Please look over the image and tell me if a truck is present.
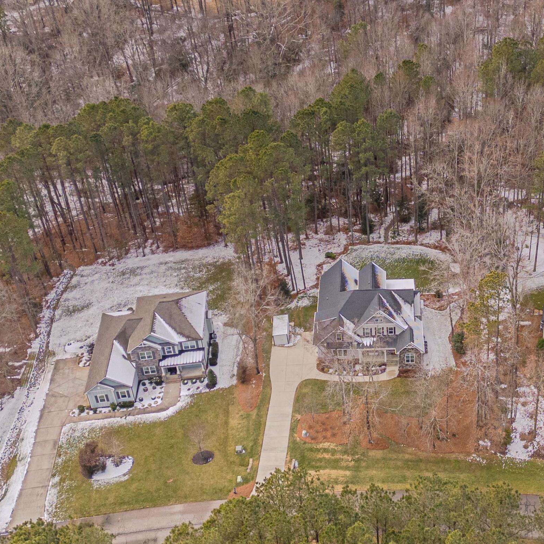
No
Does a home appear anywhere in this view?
Yes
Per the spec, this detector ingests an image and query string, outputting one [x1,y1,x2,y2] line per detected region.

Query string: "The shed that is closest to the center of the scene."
[271,310,288,345]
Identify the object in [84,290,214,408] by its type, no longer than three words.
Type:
house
